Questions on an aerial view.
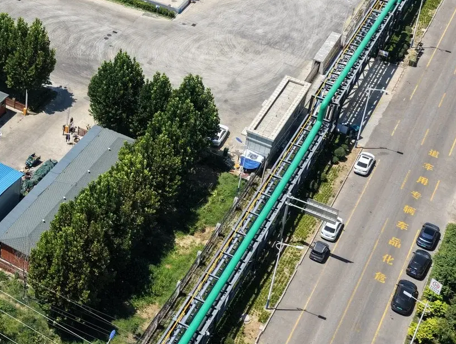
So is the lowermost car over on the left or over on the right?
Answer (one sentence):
The lowermost car appears in the right half of the scene.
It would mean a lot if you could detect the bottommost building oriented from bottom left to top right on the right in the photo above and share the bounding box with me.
[238,74,317,169]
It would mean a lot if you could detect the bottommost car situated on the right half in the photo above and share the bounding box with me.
[392,282,420,315]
